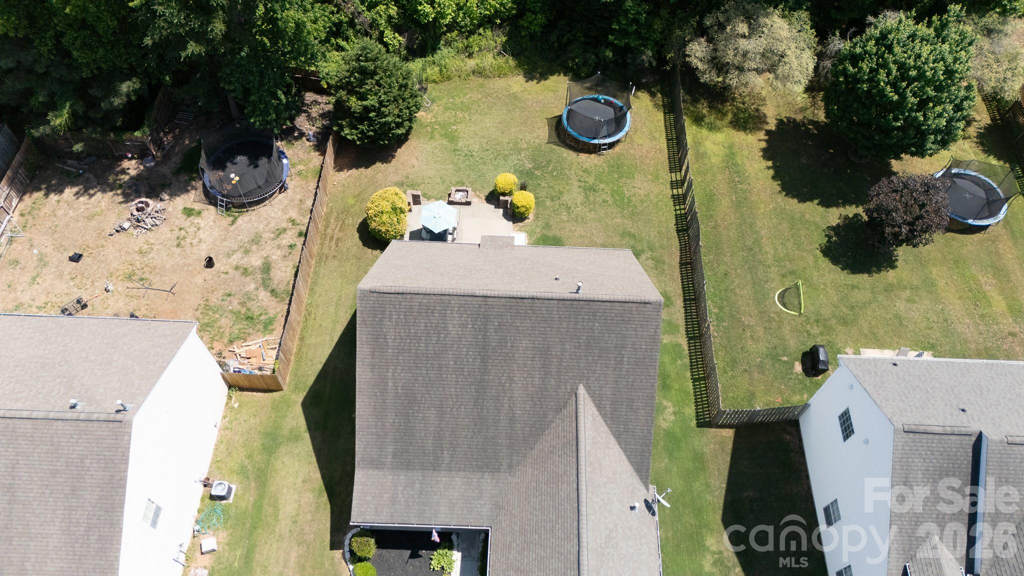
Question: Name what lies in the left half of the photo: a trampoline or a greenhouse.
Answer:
trampoline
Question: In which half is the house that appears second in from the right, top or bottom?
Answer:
bottom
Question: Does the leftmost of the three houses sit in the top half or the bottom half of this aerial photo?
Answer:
bottom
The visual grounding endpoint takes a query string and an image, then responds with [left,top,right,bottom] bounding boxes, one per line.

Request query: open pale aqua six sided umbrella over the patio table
[420,201,457,234]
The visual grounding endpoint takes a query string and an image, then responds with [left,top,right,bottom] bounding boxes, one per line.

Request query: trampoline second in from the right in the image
[559,71,634,161]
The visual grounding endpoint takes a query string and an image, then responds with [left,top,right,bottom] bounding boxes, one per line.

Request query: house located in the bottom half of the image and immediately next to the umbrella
[347,233,666,576]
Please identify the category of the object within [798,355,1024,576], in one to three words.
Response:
house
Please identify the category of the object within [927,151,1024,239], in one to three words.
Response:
trampoline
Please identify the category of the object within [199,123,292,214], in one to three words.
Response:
trampoline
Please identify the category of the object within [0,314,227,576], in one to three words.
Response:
house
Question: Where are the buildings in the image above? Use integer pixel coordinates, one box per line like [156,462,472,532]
[798,355,1024,576]
[347,233,666,576]
[0,314,227,576]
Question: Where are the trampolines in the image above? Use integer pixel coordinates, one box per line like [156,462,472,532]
[927,151,1024,239]
[559,71,634,161]
[199,123,292,214]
